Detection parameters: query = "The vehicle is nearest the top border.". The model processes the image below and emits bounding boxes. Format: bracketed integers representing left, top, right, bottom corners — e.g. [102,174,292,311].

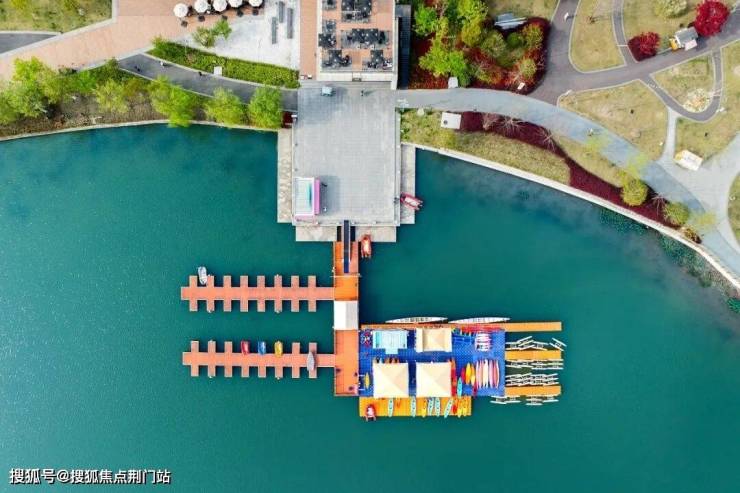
[663,28,699,51]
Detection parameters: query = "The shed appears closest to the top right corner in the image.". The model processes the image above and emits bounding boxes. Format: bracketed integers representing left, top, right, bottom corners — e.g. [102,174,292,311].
[494,12,525,33]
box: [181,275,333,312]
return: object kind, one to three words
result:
pier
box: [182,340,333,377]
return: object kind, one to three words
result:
pier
